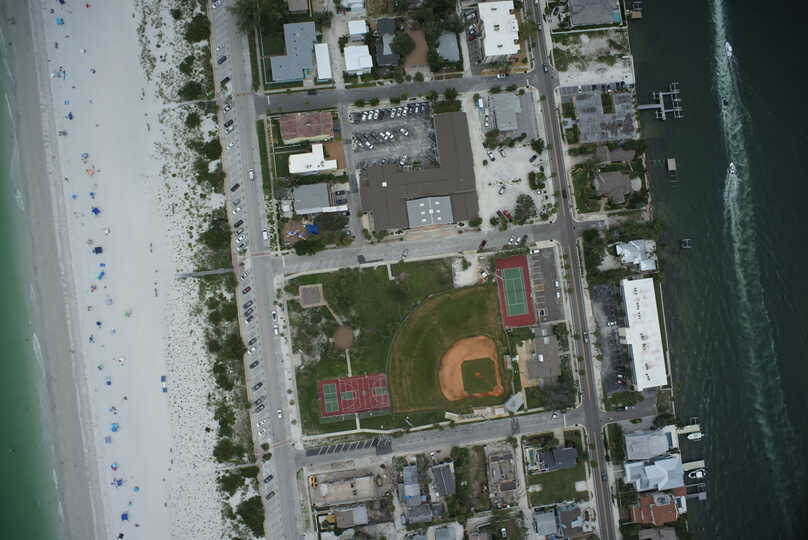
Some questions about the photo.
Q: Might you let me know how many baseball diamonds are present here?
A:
1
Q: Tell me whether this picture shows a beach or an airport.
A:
beach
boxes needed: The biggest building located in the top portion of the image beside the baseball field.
[360,111,481,231]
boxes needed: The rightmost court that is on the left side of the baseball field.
[339,373,390,413]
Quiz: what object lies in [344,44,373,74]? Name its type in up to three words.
house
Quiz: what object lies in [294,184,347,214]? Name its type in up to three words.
building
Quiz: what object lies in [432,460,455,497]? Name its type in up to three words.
house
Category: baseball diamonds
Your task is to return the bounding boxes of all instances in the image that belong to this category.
[388,284,513,413]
